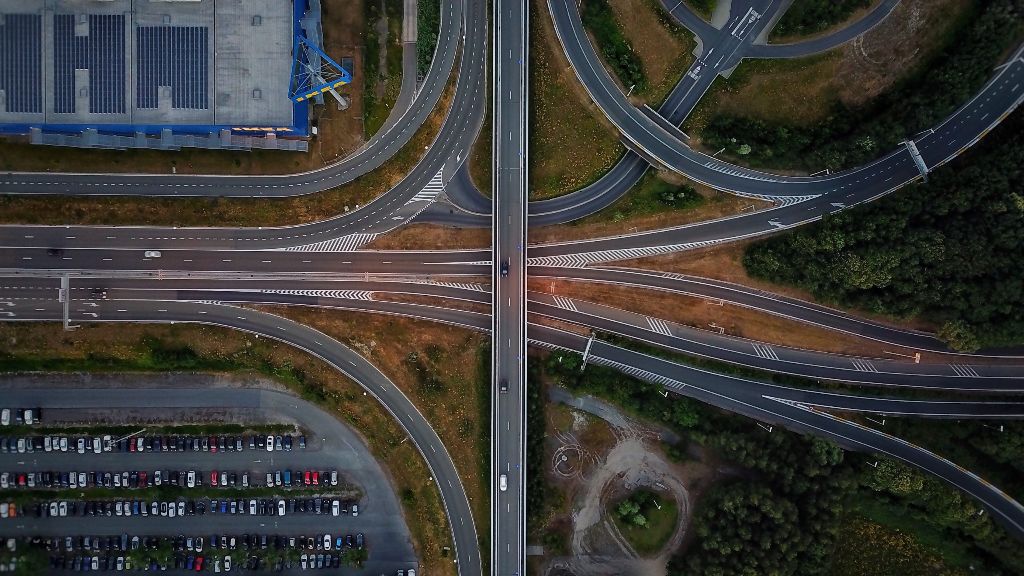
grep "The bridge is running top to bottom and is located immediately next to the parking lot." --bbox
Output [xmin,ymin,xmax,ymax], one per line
[491,0,528,576]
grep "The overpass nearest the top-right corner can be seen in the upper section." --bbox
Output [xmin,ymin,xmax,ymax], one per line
[618,104,691,170]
